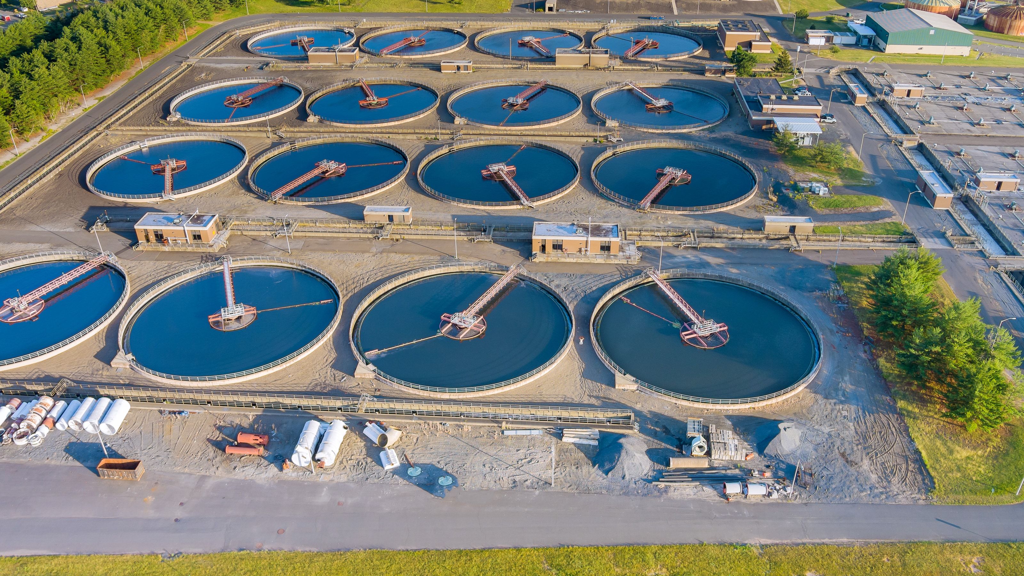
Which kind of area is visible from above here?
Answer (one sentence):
It's an industrial area.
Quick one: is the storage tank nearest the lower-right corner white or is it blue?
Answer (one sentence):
The storage tank nearest the lower-right corner is blue.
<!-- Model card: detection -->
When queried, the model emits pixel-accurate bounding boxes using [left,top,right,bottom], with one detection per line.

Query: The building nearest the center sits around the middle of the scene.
[532,216,619,255]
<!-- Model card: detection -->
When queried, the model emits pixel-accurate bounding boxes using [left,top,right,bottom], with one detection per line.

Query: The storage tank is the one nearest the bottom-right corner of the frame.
[589,264,823,410]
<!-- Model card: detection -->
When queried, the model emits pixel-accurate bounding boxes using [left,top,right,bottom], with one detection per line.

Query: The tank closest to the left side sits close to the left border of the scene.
[0,251,131,372]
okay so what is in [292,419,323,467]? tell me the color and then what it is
white storage tank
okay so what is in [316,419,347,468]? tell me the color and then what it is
white storage tank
